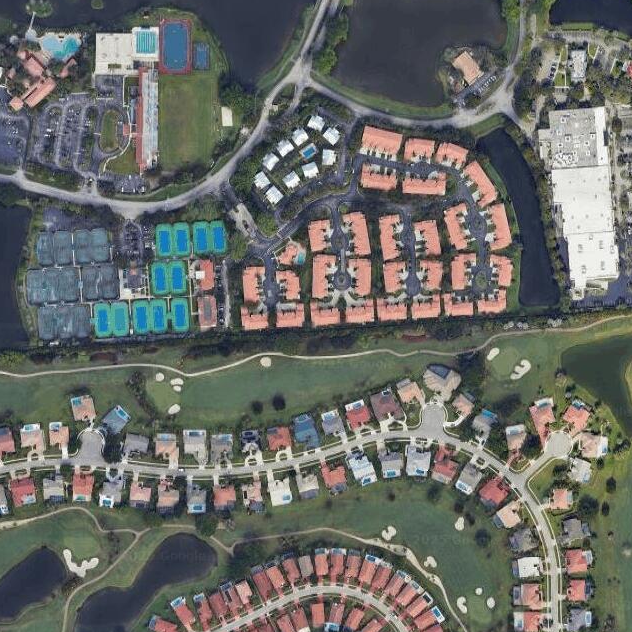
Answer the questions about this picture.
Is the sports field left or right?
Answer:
left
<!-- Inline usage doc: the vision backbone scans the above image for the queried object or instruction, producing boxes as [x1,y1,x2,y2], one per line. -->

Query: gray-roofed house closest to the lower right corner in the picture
[567,610,587,631]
